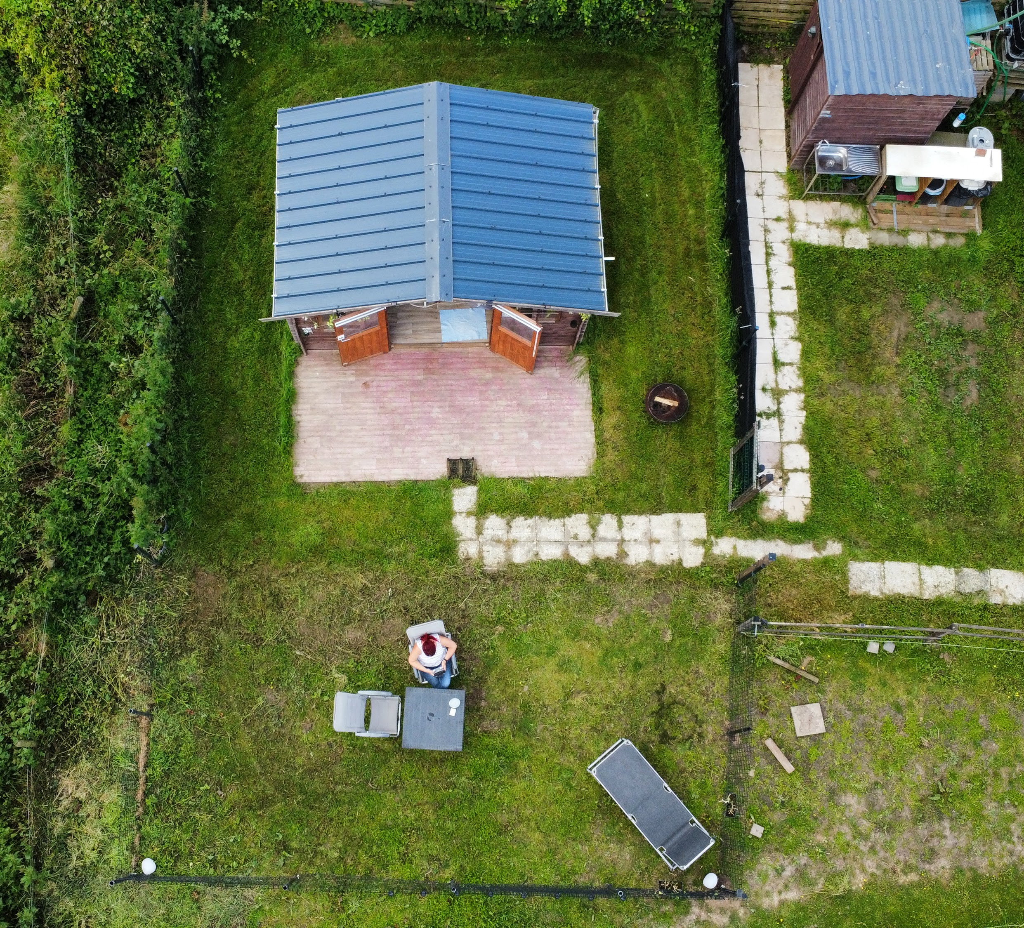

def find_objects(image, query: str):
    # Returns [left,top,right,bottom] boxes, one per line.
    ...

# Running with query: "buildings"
[257,79,618,371]
[779,0,979,169]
